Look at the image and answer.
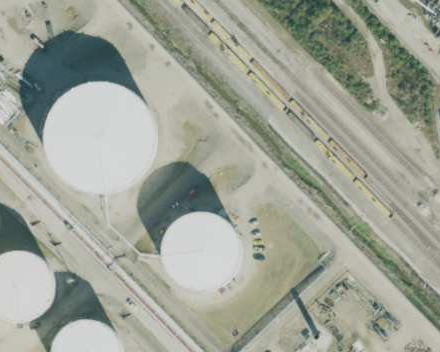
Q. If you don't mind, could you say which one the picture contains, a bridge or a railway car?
railway car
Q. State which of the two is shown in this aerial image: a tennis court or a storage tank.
storage tank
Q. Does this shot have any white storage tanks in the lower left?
Yes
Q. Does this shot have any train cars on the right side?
Yes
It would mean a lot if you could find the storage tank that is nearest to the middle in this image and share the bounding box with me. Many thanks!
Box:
[160,211,242,294]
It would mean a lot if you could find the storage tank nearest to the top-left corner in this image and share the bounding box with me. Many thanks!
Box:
[44,79,160,196]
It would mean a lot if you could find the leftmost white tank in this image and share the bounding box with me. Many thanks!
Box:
[0,250,58,326]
